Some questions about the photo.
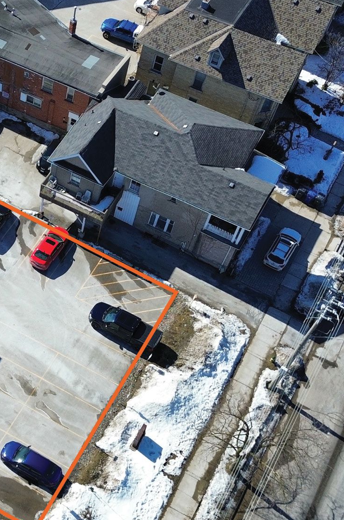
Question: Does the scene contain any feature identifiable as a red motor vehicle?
Yes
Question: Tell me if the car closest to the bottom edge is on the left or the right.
left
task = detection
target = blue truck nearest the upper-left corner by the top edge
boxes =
[102,20,142,50]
